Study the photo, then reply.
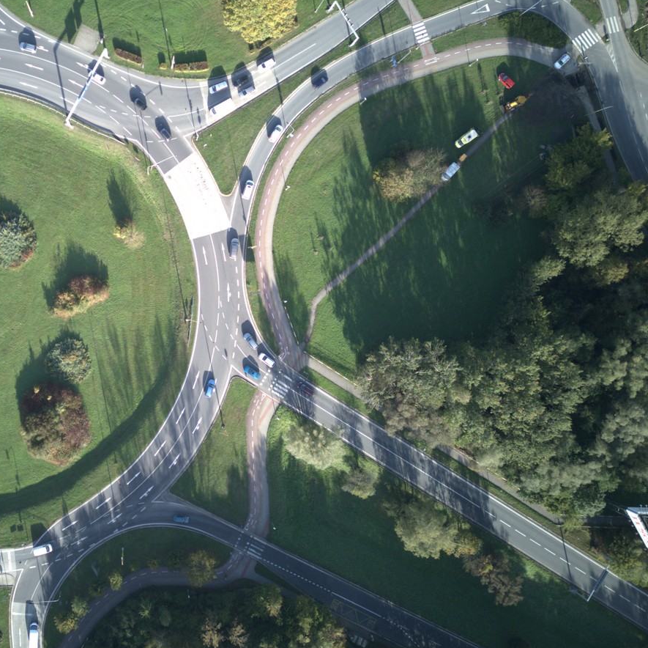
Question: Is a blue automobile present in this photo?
Yes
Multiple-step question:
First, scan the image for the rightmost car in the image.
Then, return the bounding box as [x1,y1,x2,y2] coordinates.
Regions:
[554,52,574,69]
